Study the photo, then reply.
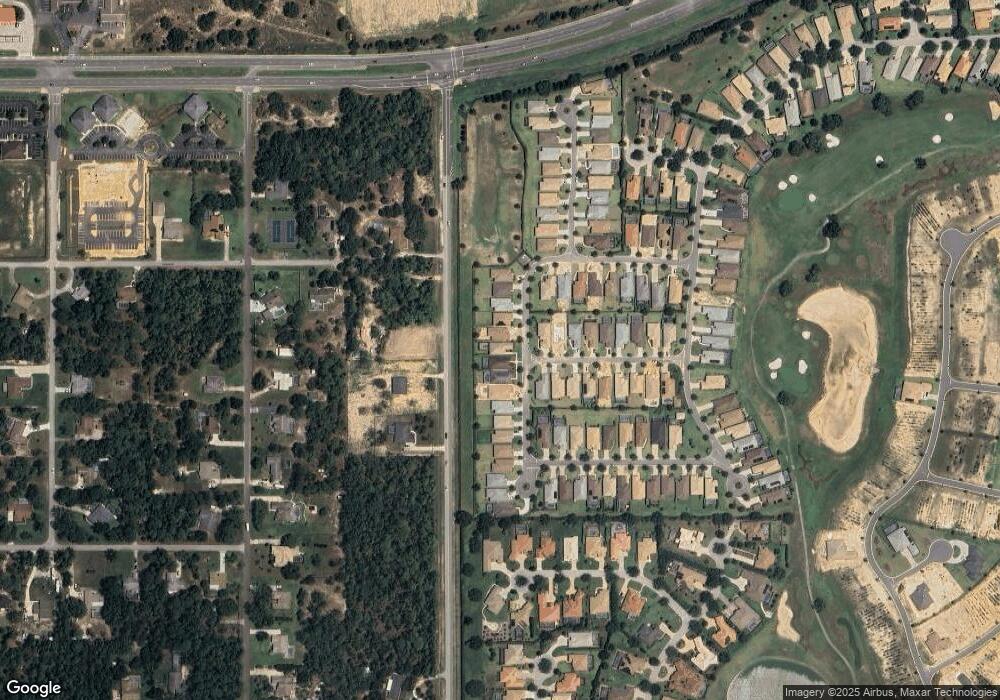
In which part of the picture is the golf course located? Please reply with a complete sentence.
The golf course is located in the right region of the scene.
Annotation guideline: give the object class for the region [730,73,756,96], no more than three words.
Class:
house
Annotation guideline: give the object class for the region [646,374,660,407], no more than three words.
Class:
house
